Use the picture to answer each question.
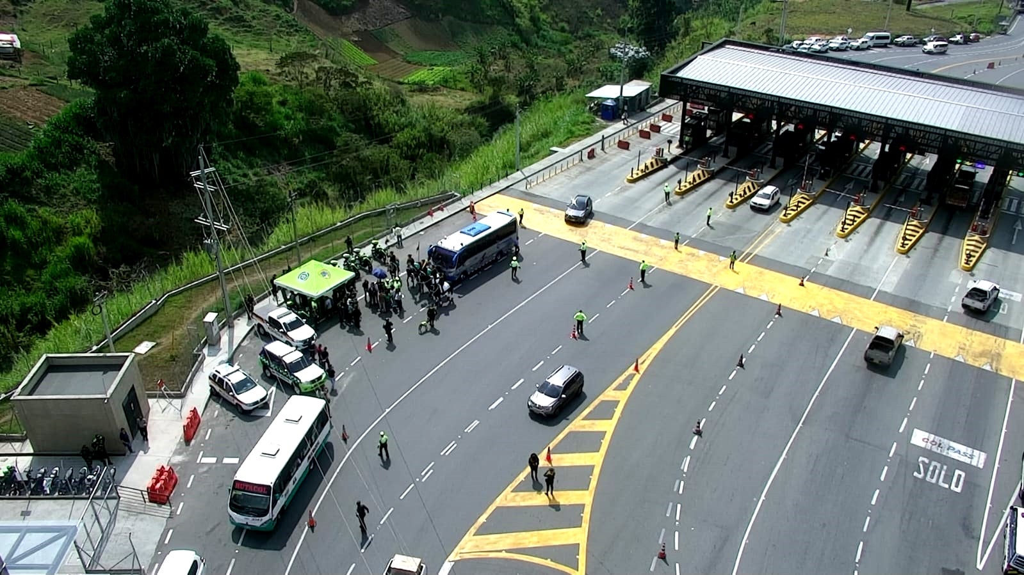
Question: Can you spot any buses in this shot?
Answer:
Yes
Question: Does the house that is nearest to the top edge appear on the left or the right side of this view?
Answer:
left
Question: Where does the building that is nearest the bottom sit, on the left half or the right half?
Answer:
left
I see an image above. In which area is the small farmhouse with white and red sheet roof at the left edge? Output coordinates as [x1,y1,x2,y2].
[0,32,30,61]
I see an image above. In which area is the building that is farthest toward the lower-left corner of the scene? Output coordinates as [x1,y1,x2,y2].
[11,352,149,454]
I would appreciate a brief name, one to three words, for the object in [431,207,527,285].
bus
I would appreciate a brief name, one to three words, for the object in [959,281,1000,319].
truck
